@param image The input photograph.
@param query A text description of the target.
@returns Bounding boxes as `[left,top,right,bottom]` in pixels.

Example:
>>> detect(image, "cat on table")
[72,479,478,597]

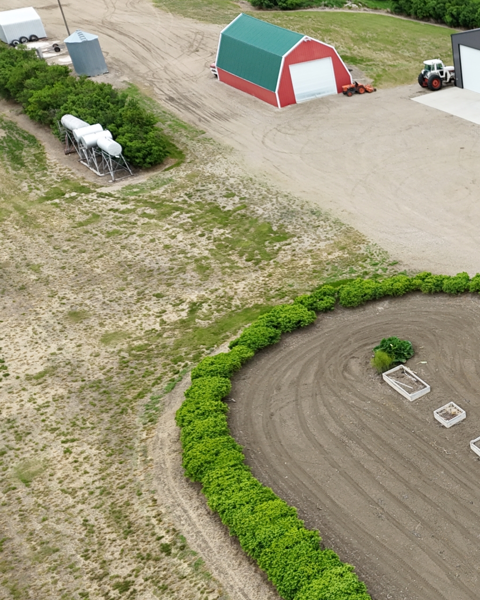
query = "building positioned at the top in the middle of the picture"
[212,12,354,106]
